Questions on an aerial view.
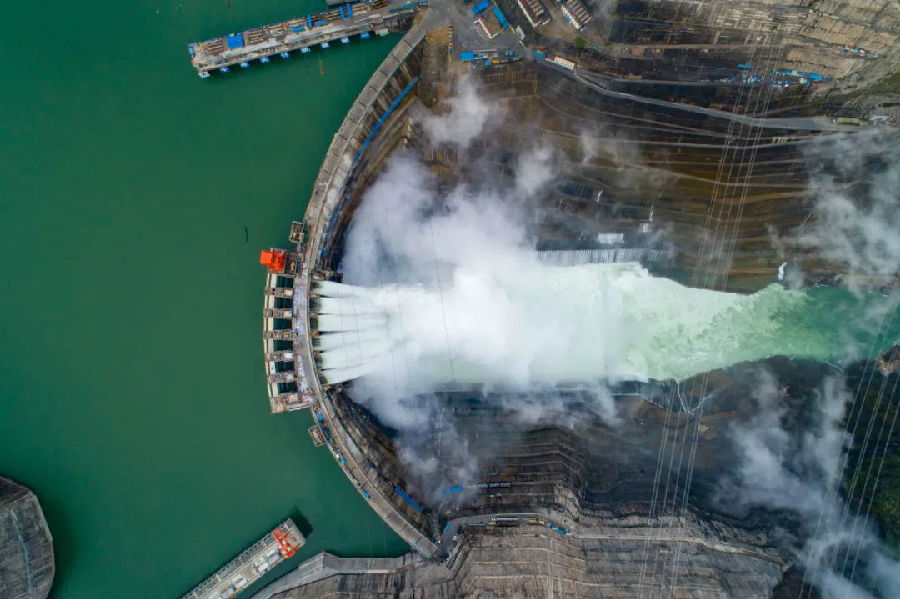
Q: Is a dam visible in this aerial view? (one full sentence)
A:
Yes, I can see a dam in this picture.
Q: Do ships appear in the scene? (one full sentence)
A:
No, there isn't any ship down there.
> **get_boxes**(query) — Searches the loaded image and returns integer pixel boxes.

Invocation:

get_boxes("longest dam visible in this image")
[262,9,441,558]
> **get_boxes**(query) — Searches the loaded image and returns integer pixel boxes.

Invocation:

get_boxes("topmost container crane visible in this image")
[255,252,289,271]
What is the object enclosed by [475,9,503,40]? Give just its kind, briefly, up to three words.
building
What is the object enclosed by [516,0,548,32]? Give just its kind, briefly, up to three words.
building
